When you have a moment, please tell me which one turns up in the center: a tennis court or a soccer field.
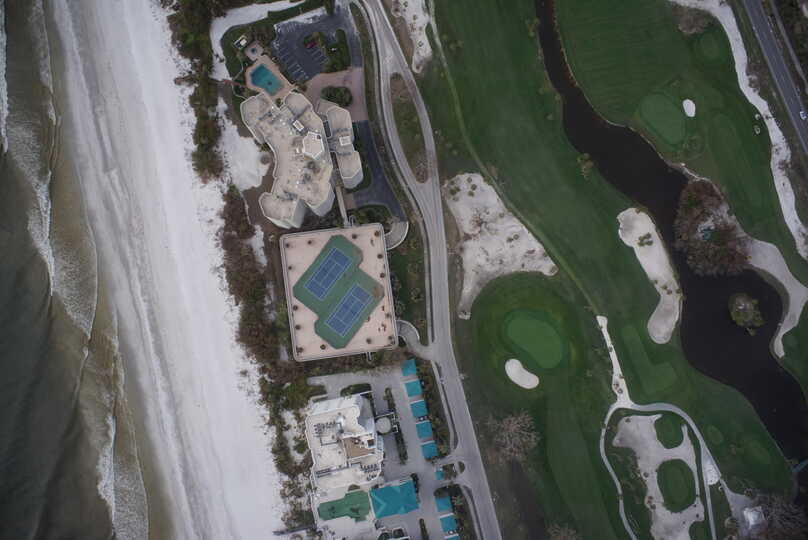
tennis court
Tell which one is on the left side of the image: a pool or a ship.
pool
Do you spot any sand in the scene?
Yes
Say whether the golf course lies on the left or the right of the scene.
right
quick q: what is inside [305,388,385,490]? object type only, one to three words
building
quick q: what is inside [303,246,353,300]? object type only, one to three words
tennis court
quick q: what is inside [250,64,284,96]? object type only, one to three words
swimming pool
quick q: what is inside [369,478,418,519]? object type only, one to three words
building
